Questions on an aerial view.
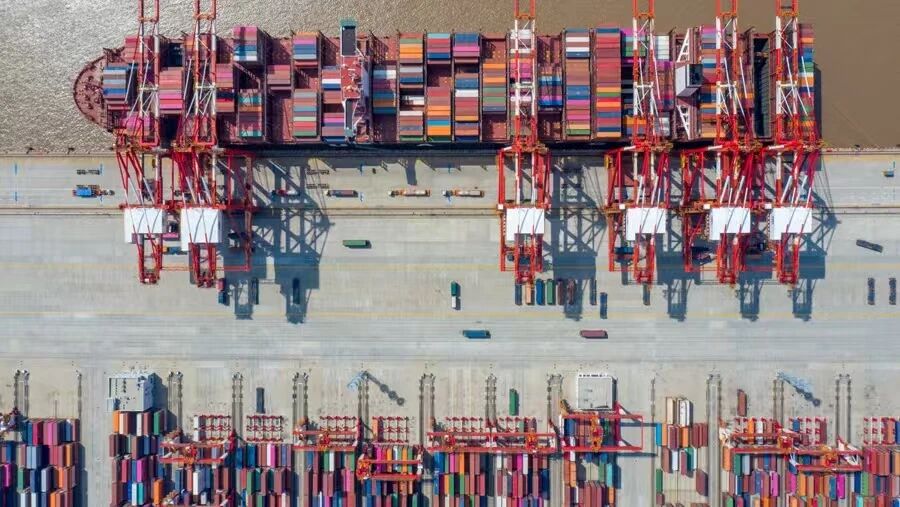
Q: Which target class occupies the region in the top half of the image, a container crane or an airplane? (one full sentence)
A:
What appears in the top half of the image is a container crane.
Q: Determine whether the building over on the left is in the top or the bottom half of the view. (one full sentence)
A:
Seen from above, the building over on the left lies in the bottom half of the view.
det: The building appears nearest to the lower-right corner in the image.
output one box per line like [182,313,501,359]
[575,373,613,409]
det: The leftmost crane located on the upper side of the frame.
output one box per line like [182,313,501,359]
[111,0,203,286]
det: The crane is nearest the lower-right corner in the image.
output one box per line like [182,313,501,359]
[780,434,862,470]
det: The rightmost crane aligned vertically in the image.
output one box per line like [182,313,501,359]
[724,0,830,286]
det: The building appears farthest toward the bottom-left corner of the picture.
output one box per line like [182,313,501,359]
[108,370,158,411]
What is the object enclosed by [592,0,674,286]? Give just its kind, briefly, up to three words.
container crane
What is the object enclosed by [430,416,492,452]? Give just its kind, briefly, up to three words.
crane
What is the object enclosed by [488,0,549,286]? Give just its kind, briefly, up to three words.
container crane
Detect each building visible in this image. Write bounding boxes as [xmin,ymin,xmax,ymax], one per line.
[108,370,158,411]
[575,373,613,409]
